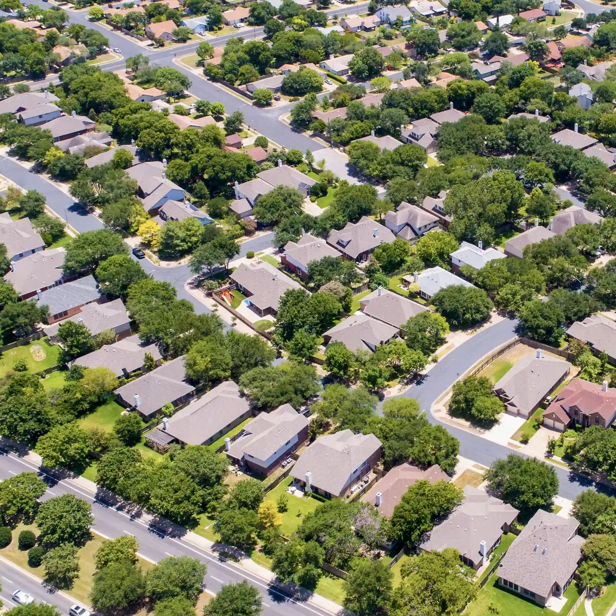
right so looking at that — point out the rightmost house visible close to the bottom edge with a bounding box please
[495,517,589,605]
